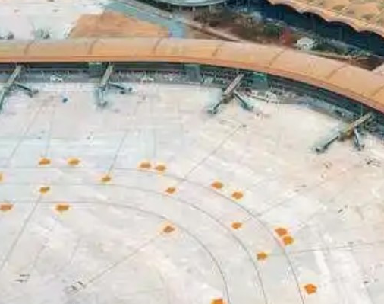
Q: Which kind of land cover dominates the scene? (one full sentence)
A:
The bulk of the photo consists of paved ground.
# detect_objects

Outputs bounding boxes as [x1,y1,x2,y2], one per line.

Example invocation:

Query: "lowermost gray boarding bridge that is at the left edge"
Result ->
[0,65,37,113]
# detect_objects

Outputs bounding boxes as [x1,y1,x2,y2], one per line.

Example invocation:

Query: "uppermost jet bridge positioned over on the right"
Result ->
[209,73,255,115]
